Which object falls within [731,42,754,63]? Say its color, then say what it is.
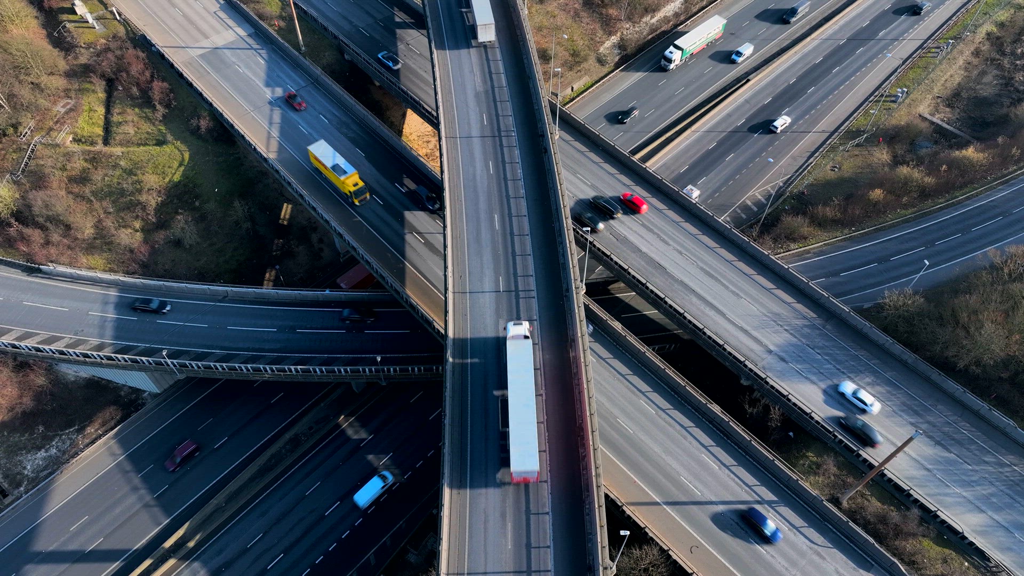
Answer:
white vehicle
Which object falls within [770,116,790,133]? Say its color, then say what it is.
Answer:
white car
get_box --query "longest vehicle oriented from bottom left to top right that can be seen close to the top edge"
[658,17,722,74]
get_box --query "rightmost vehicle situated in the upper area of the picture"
[912,2,929,15]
